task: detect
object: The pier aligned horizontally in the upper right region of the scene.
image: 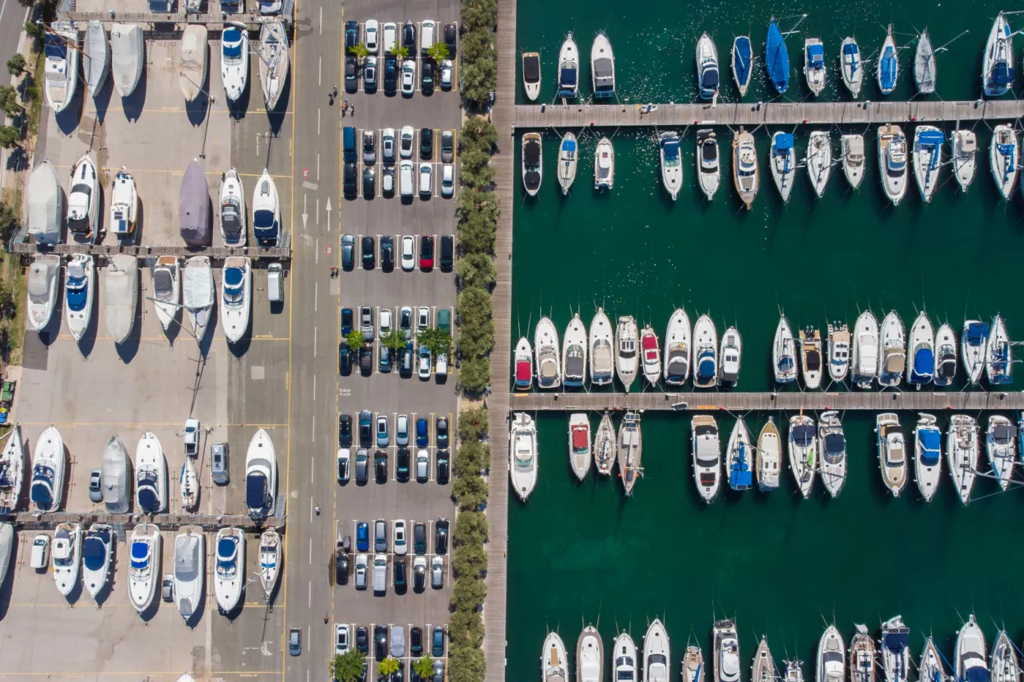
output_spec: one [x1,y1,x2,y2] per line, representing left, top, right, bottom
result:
[516,100,1024,128]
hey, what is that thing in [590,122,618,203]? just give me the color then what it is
white boat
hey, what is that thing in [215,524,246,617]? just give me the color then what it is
white boat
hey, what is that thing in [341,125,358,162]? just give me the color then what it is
blue vehicle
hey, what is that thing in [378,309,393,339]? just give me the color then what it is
white car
